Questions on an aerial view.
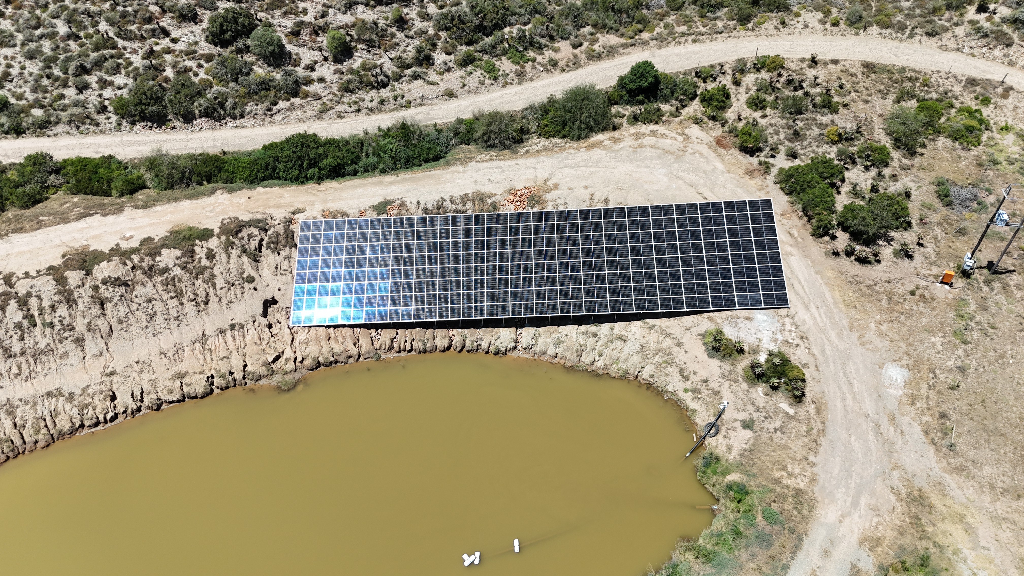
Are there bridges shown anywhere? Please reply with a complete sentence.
No, no bridge is visible in the scene.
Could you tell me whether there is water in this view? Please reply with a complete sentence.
Yes, water can be seen from above here.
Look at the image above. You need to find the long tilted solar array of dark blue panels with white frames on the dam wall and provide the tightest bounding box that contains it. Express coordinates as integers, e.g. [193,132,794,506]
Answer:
[291,199,789,332]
